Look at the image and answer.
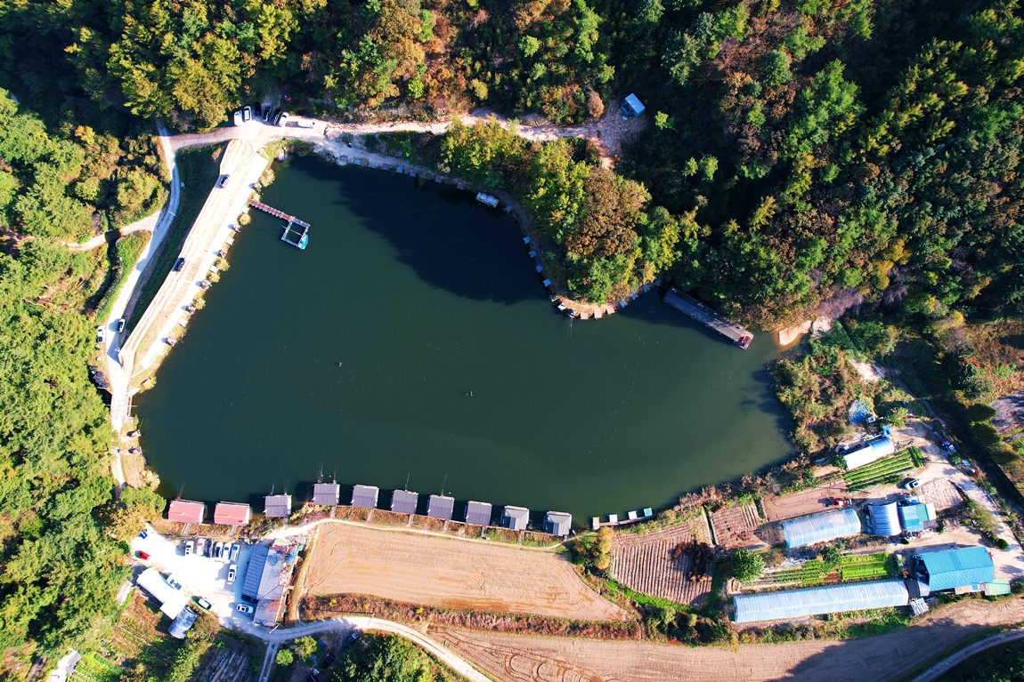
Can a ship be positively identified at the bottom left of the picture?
No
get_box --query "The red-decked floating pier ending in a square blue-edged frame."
[249,198,311,247]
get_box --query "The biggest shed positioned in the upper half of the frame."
[616,93,645,122]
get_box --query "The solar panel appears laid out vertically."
[244,551,267,599]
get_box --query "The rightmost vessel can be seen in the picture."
[659,285,752,350]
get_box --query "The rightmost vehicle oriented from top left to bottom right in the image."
[943,439,960,457]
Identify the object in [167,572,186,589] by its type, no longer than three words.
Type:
vehicle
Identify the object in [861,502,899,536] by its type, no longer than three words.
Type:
shed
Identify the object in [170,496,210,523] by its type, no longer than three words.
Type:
building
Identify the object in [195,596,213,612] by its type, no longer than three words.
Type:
car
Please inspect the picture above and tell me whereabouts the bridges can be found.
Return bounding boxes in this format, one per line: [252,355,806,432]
[100,386,139,425]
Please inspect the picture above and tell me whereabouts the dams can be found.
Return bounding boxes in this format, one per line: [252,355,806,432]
[120,139,267,379]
